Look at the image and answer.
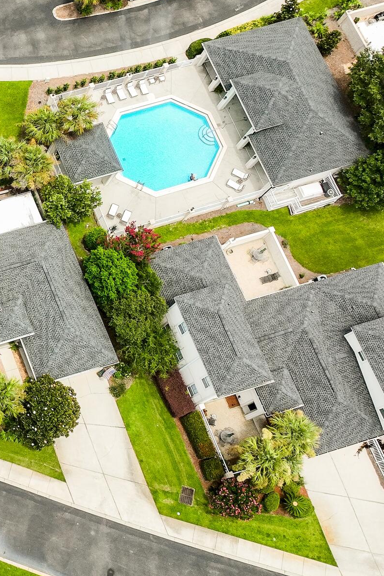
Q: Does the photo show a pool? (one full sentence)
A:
Yes, a pool can be made out from above.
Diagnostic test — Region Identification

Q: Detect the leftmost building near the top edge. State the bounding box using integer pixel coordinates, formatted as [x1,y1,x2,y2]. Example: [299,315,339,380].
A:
[194,17,371,193]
